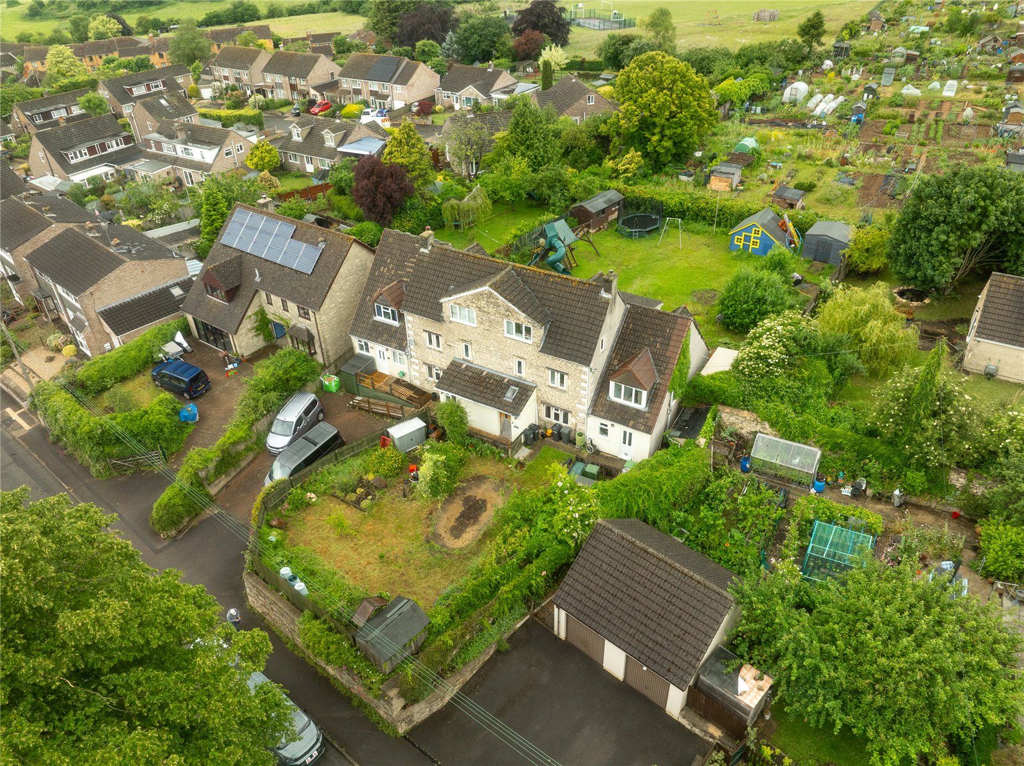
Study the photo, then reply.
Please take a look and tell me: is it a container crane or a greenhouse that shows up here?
greenhouse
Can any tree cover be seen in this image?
Yes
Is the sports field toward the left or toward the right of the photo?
right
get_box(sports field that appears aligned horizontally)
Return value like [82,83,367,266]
[538,0,918,61]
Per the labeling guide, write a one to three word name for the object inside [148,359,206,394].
car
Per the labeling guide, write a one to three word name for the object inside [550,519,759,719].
building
